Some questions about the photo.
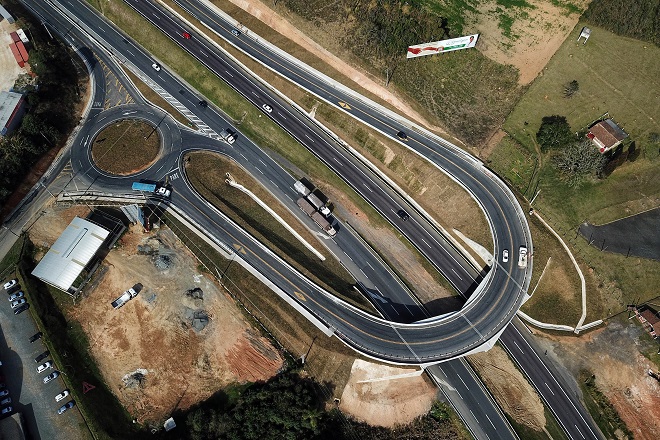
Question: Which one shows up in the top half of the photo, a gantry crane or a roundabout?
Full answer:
There is a roundabout in the top half of the photo.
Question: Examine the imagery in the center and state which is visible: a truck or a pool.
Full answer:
There is a truck in the center.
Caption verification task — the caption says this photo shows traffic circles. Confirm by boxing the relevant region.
[72,103,180,193]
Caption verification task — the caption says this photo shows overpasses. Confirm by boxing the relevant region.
[171,0,550,384]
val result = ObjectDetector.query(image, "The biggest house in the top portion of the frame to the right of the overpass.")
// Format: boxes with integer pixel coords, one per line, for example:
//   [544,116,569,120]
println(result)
[583,120,625,154]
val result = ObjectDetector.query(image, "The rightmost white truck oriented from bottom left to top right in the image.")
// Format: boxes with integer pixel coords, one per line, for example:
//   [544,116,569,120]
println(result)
[113,287,138,309]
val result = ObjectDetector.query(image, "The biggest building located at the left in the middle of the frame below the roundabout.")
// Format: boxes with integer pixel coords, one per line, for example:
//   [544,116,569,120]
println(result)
[32,216,114,295]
